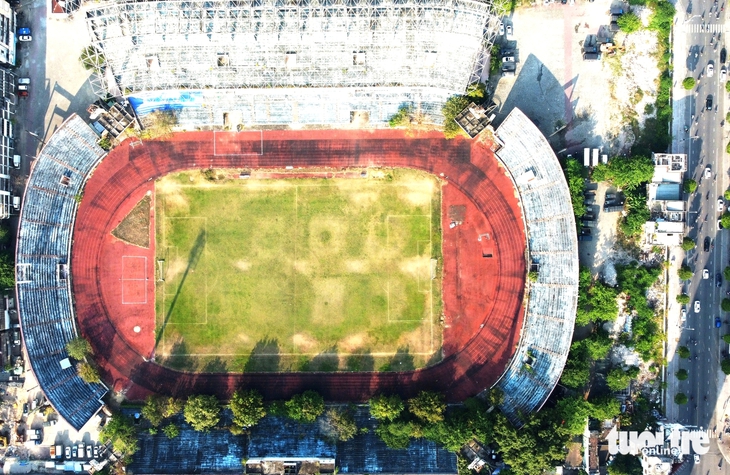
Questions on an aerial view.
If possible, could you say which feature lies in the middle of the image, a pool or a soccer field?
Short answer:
soccer field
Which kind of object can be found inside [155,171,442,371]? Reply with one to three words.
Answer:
soccer field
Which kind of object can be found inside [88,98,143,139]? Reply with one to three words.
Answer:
building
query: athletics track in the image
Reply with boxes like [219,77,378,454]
[75,131,526,401]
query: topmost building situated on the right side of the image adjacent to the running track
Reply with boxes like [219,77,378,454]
[452,100,497,143]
